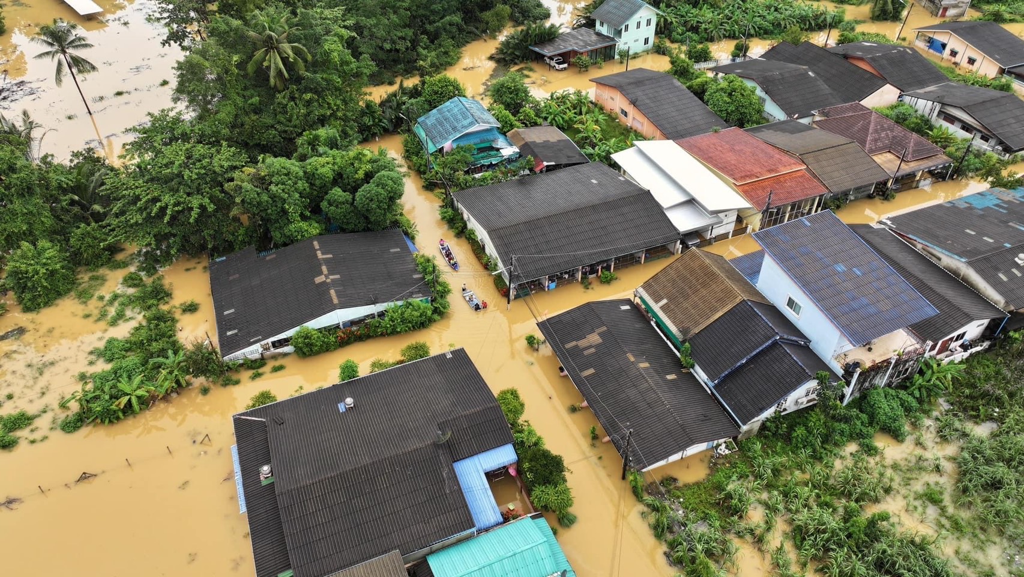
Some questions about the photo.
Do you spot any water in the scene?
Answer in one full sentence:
Yes, water shows up in the scene.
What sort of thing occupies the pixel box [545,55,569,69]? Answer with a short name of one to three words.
vehicle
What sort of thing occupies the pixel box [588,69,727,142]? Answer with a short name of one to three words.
house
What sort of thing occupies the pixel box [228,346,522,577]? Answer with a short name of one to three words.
house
